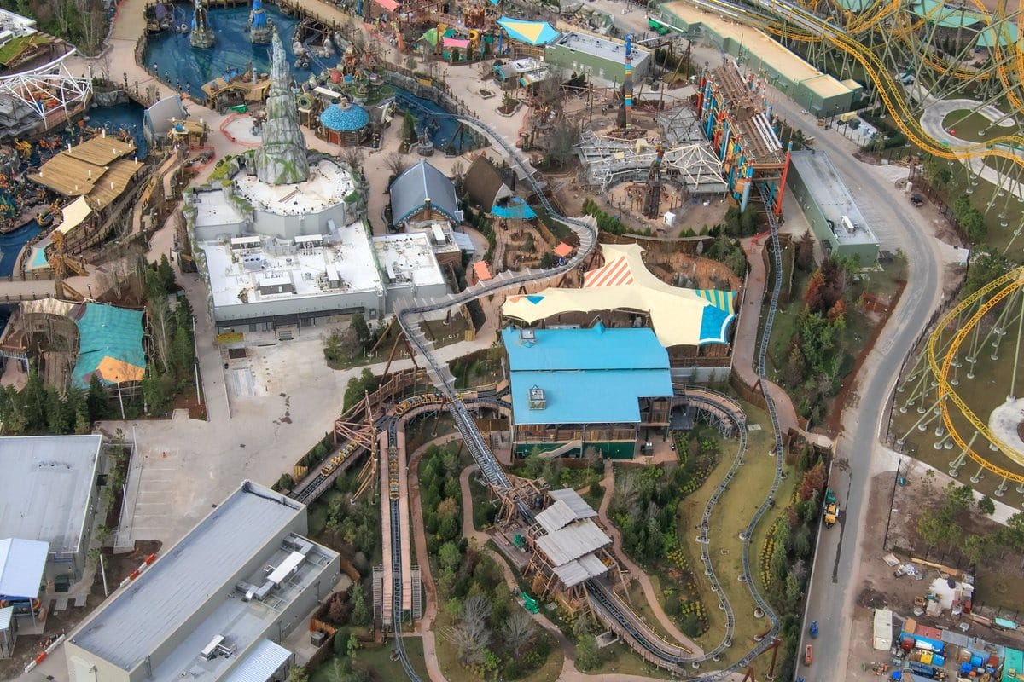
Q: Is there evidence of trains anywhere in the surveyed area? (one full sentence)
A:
Yes, I can see a train in this picture.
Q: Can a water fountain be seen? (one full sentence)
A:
Yes, the image includes a water fountain.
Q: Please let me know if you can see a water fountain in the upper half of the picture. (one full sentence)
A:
Yes, a water fountain appears in the upper half of the picture.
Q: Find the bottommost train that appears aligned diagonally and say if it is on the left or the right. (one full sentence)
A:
The bottommost train that appears aligned diagonally appears in the left half of the scene.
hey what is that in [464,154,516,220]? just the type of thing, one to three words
building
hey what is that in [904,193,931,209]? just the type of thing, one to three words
vehicle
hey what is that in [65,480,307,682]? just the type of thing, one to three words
warehouse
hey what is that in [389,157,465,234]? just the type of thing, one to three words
barn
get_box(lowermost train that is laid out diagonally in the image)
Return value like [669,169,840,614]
[316,437,369,479]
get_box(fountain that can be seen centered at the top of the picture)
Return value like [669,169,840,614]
[410,130,441,161]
